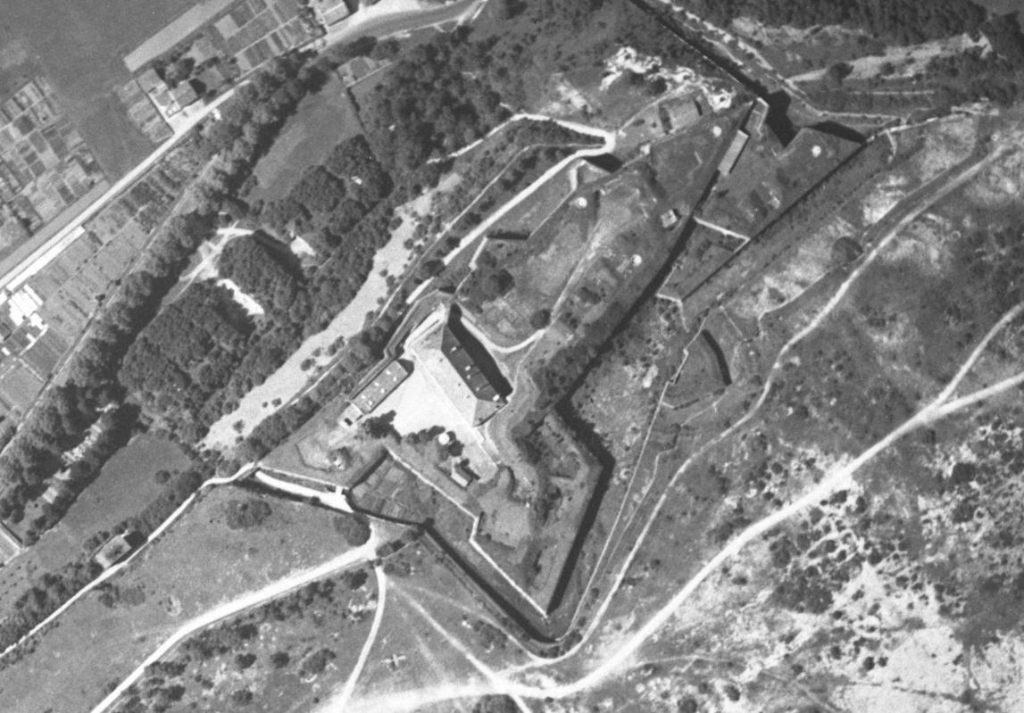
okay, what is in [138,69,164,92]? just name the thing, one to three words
barn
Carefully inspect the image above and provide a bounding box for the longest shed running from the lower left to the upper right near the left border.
[8,226,86,292]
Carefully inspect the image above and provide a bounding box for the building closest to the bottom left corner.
[97,536,132,568]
